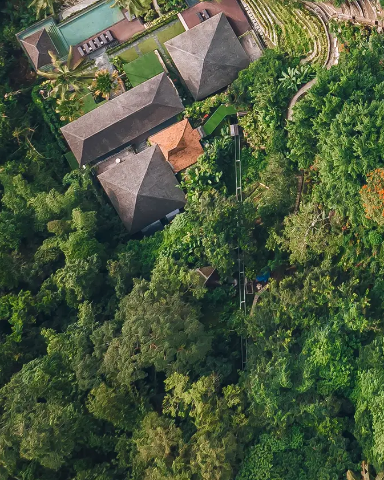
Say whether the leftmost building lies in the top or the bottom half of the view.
top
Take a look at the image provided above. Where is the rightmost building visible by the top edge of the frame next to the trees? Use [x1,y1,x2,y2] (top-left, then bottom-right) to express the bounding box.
[164,11,252,102]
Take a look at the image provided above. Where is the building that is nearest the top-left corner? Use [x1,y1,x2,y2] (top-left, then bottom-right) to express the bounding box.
[20,27,63,71]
